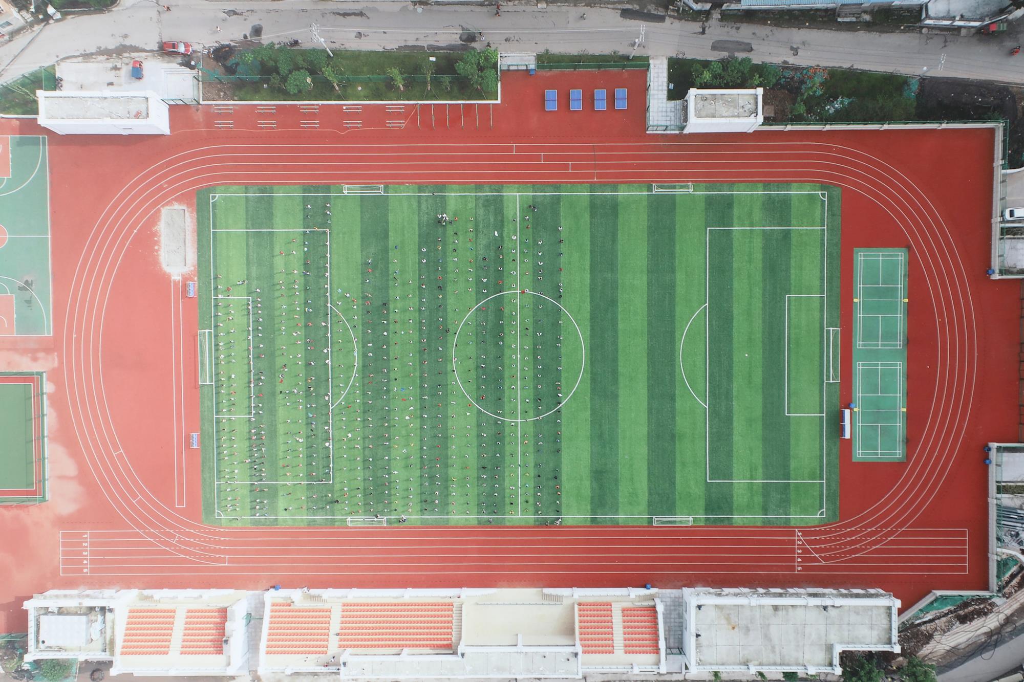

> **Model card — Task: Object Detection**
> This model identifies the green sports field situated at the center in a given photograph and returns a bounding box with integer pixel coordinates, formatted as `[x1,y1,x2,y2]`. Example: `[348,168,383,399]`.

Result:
[196,183,841,526]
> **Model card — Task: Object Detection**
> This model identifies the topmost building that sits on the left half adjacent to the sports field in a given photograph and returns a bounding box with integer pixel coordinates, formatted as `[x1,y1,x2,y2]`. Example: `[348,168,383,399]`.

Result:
[34,89,170,134]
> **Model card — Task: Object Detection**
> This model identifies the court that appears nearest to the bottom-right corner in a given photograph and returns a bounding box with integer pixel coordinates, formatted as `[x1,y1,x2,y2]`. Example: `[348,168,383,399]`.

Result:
[853,355,907,462]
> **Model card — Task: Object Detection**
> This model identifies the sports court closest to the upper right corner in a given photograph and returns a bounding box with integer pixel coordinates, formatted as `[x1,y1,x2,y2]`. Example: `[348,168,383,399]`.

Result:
[853,248,908,355]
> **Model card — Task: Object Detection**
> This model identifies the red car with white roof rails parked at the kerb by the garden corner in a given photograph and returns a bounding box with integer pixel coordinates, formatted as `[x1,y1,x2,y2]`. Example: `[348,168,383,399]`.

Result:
[162,39,193,56]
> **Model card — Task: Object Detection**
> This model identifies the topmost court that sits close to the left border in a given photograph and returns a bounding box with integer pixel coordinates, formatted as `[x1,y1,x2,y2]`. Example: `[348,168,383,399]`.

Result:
[0,135,52,336]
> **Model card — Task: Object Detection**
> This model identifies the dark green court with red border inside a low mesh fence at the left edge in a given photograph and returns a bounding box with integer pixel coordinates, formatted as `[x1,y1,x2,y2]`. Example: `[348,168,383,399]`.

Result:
[0,372,49,506]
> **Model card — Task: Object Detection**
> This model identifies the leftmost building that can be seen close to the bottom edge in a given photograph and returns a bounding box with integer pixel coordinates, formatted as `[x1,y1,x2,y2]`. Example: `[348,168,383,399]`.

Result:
[27,589,127,659]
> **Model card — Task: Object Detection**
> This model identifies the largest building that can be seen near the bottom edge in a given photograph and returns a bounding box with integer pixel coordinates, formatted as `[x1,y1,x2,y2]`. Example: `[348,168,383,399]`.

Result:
[679,588,899,672]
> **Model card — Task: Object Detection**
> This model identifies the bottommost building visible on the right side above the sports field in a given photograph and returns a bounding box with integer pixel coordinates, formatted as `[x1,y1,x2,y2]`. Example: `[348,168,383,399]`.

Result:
[681,86,765,132]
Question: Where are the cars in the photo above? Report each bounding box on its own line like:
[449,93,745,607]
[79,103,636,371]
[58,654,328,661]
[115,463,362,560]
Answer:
[162,39,193,56]
[1002,207,1024,222]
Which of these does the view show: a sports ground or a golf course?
sports ground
